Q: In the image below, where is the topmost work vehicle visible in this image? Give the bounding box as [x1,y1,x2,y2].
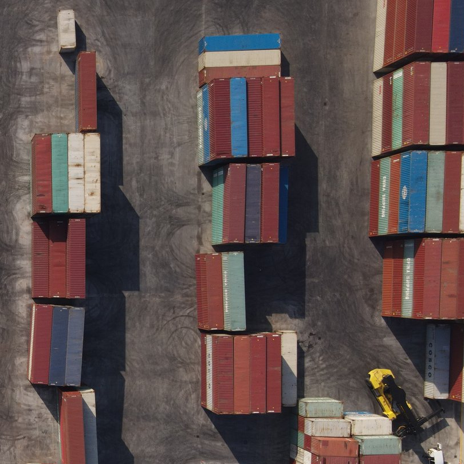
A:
[371,369,439,437]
